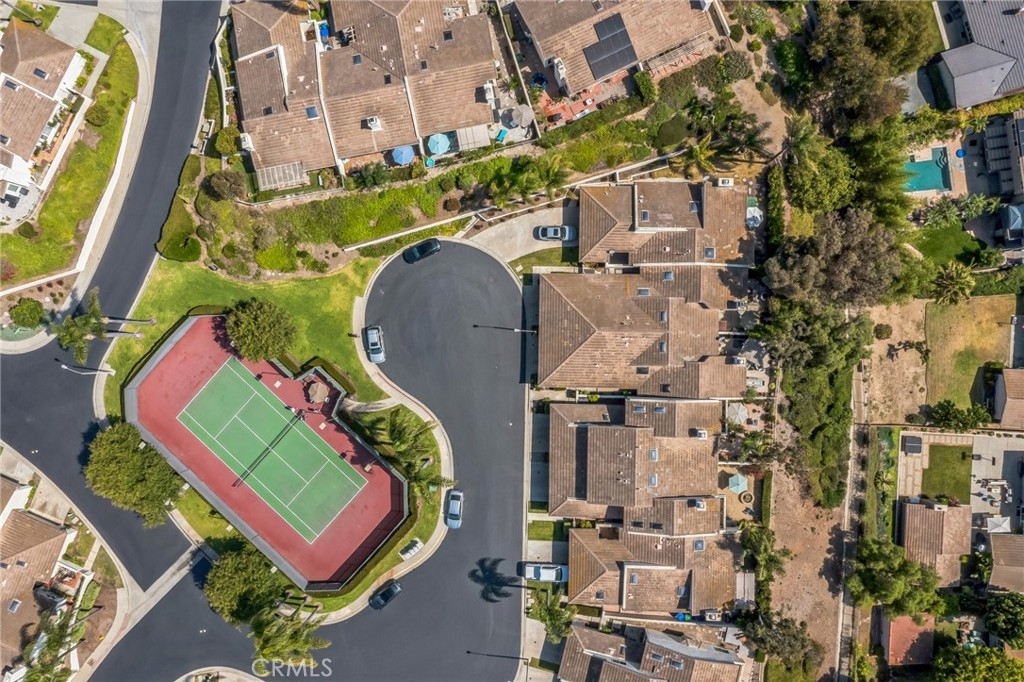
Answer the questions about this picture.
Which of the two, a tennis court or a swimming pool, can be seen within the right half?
swimming pool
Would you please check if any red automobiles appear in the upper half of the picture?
No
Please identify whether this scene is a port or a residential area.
residential area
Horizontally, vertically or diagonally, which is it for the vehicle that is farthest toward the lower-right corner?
horizontally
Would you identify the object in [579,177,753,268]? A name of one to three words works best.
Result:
house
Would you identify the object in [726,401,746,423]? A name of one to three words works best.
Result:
umbrella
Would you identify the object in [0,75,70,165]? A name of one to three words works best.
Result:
house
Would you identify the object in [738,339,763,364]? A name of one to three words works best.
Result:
umbrella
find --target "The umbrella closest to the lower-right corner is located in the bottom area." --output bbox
[982,513,1006,534]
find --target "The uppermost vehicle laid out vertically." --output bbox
[364,325,385,363]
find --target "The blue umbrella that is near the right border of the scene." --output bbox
[1000,210,1023,228]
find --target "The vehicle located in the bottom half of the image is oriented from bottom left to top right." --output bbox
[368,580,402,609]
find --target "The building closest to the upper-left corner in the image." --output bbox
[0,16,88,103]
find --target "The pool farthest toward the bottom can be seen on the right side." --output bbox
[903,146,952,193]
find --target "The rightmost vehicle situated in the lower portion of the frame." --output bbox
[526,563,569,583]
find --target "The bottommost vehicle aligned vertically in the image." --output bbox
[445,489,464,527]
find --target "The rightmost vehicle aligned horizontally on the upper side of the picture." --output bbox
[539,223,576,241]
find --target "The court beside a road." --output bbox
[137,316,407,583]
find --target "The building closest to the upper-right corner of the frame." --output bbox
[928,0,1024,112]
